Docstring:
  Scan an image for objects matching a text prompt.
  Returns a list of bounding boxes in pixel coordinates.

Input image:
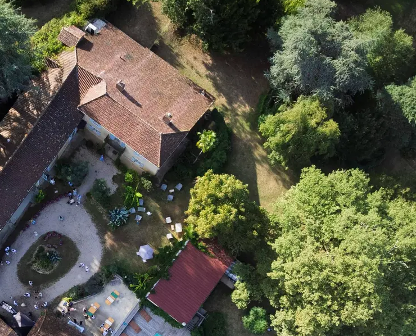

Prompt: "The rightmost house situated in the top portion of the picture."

[57,20,217,179]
